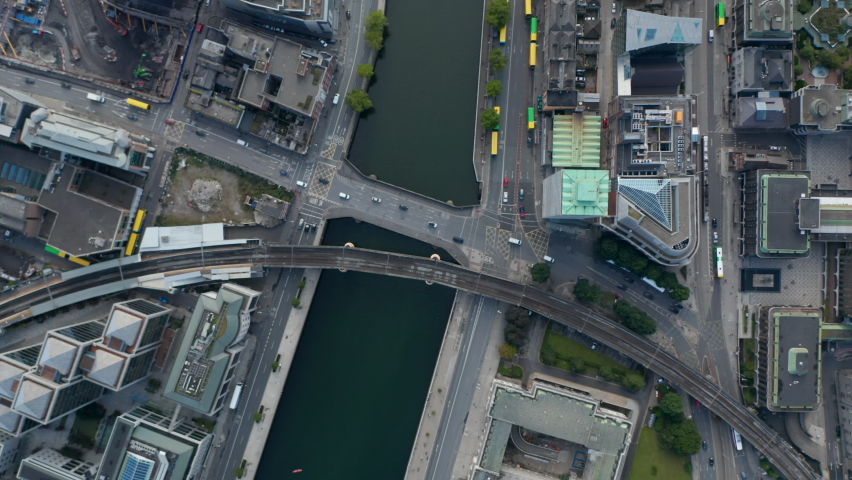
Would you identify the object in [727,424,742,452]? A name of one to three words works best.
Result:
vehicle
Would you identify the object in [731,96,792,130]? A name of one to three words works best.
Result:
house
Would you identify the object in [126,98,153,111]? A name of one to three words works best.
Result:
vehicle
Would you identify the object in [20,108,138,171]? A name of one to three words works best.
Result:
building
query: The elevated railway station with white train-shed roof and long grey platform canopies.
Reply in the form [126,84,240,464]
[0,223,264,335]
